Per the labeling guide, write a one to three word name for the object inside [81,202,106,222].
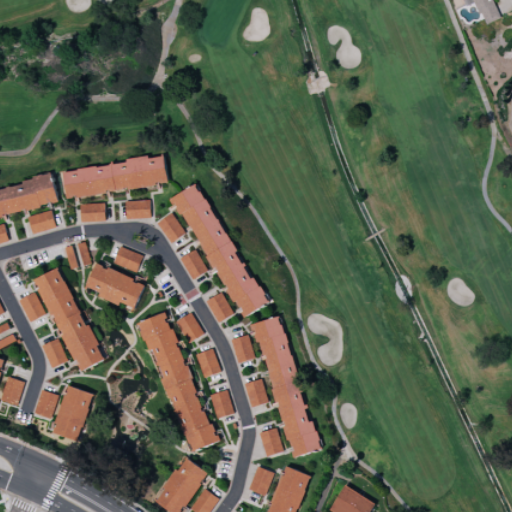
building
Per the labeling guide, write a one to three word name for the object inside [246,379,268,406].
building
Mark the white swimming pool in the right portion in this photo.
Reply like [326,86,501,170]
[457,4,485,24]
